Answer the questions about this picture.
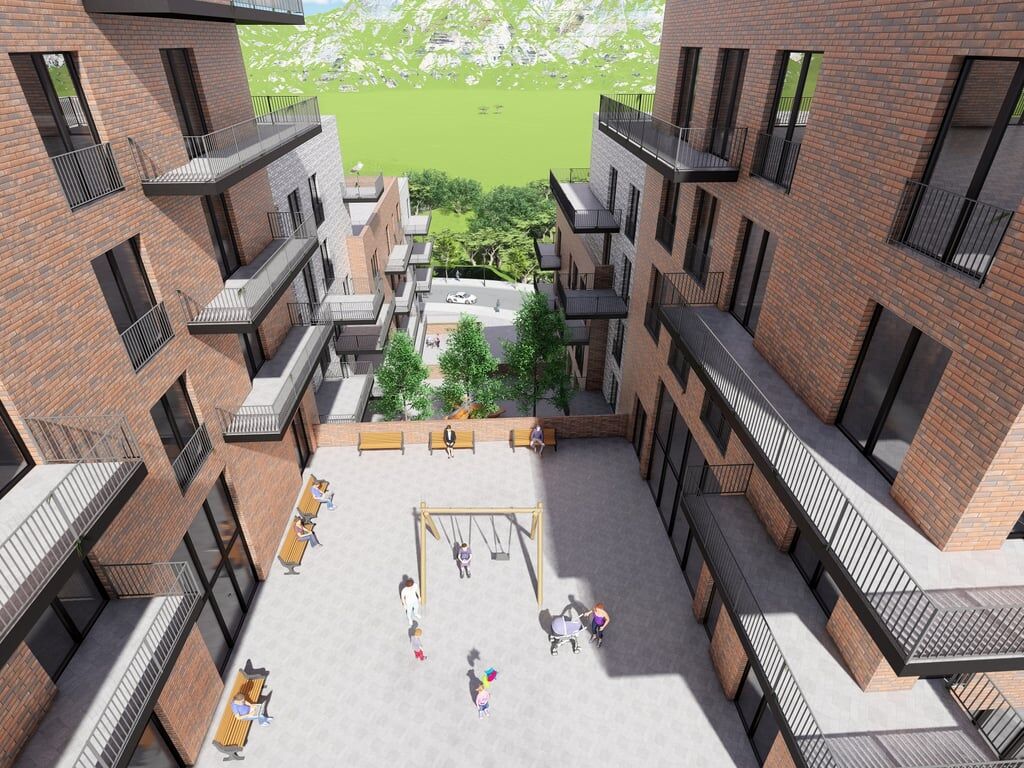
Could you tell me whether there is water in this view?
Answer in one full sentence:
No, no water is visible.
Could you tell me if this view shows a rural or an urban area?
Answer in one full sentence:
The area is urban.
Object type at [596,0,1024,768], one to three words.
building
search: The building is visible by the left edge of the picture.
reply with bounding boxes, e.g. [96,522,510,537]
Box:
[0,0,337,768]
